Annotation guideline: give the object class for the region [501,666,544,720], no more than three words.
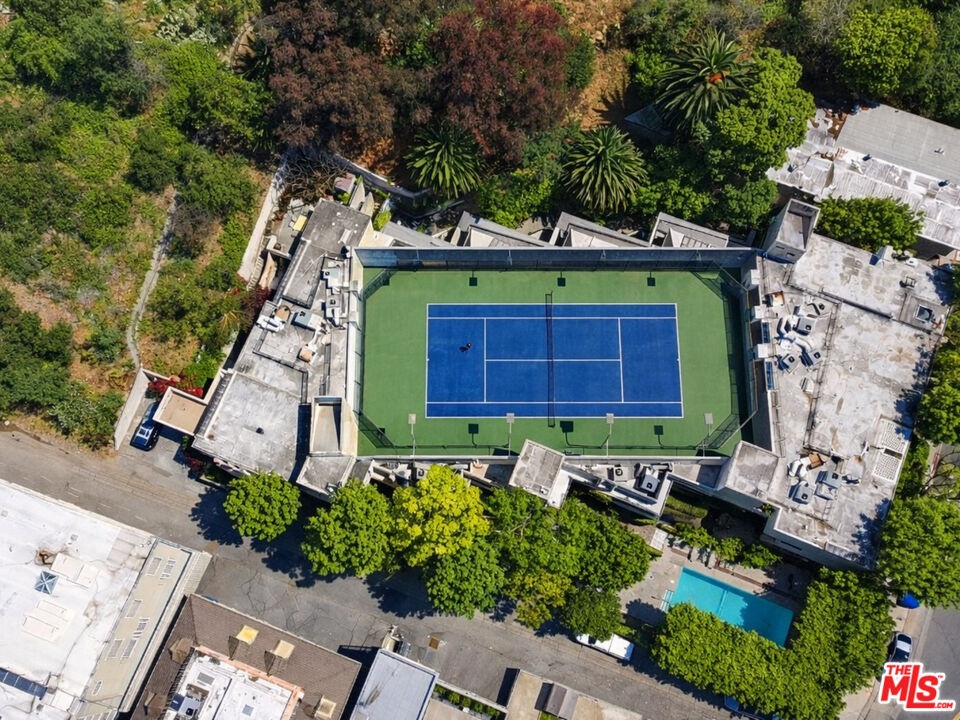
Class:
building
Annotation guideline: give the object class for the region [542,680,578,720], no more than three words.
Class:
shed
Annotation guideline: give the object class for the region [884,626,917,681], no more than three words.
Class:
car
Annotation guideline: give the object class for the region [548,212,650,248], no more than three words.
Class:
house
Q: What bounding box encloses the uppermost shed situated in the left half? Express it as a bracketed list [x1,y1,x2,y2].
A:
[334,172,357,195]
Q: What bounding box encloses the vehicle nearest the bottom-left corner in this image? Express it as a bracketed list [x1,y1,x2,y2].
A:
[128,399,163,454]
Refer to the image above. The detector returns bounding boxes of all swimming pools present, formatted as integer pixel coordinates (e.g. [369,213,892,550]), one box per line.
[660,562,800,643]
